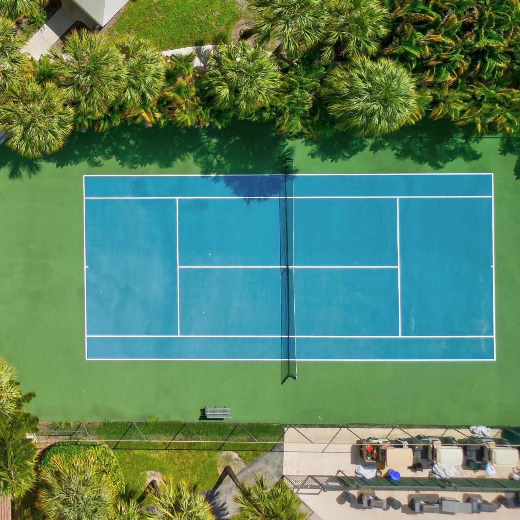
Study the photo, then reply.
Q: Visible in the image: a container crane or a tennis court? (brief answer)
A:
tennis court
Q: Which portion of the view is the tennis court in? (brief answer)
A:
center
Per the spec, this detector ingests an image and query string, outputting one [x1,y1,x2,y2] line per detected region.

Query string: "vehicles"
[468,440,520,471]
[414,438,470,470]
[366,438,420,470]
